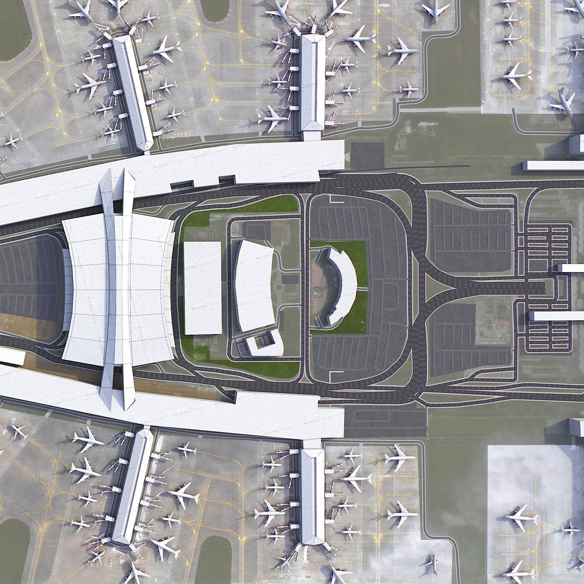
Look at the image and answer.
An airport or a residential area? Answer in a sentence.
The area seen from above is an airport.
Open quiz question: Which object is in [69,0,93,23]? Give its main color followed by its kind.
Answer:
white airplane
